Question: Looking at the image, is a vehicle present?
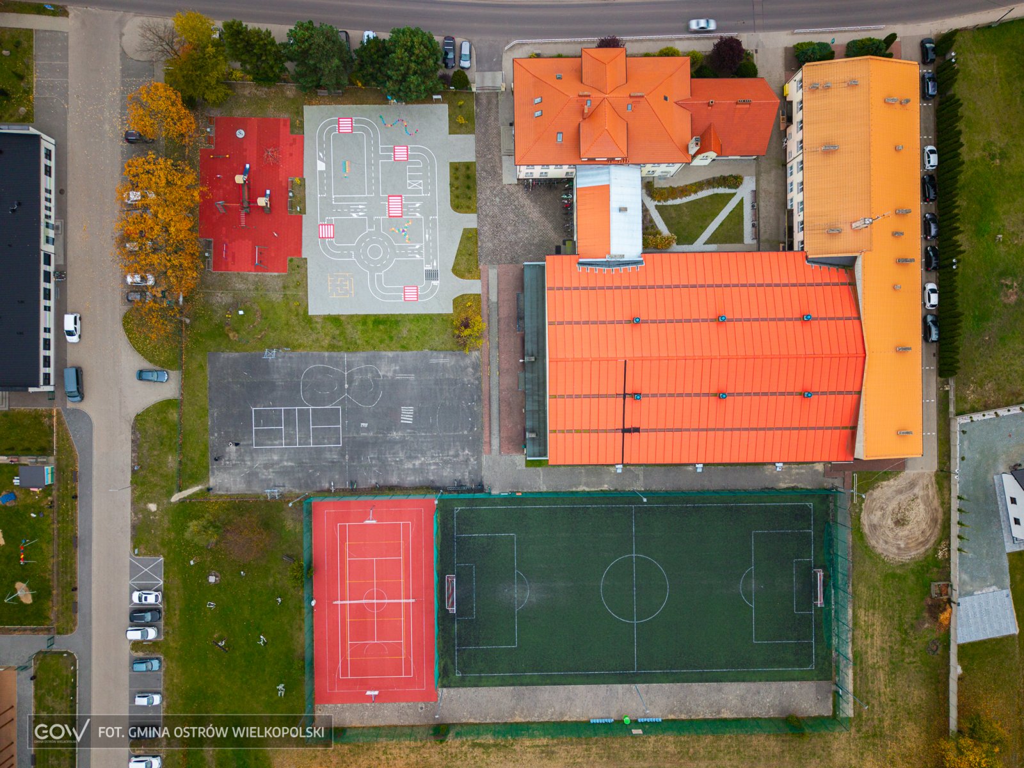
Yes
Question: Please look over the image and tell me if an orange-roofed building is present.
Yes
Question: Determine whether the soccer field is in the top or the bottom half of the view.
bottom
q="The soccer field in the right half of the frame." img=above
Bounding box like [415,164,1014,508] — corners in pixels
[437,494,833,688]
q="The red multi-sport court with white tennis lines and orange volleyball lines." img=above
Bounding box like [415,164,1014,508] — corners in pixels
[312,500,437,704]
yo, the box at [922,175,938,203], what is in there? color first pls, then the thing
black car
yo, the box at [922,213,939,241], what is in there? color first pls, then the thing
black car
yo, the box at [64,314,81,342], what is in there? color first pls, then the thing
white car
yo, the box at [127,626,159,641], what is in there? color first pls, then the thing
white car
